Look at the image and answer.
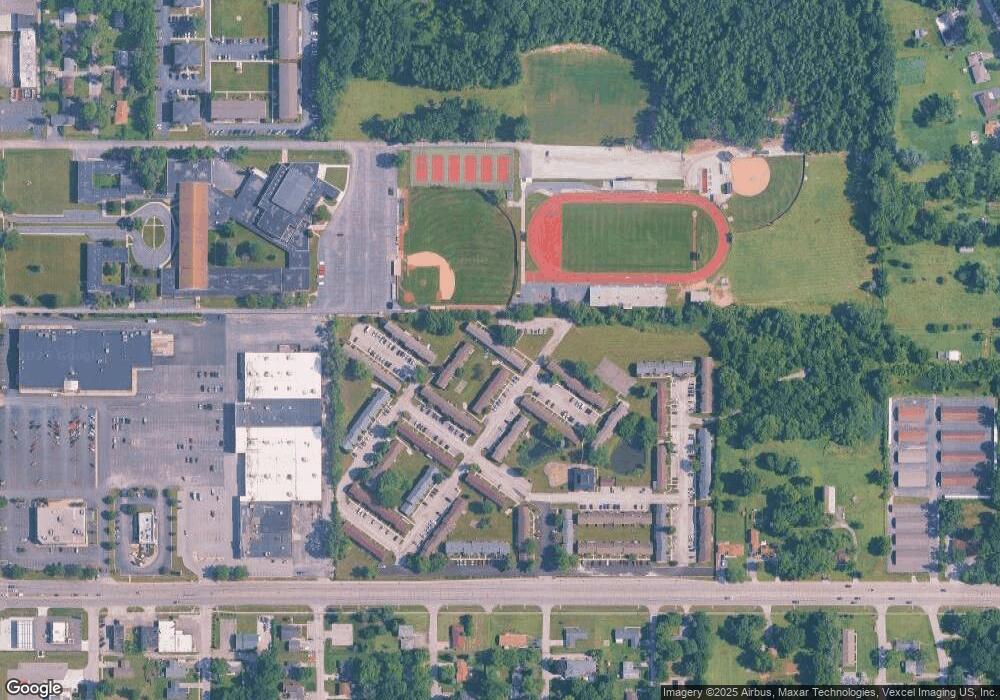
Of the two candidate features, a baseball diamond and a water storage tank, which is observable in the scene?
baseball diamond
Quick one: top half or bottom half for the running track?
top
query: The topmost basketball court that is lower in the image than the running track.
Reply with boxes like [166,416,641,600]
[595,357,636,394]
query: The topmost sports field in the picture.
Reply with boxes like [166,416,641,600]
[525,49,650,144]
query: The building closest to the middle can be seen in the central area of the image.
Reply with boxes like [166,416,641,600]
[466,323,527,370]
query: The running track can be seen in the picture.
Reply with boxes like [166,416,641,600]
[525,192,729,284]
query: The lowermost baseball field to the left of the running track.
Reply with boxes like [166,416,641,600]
[402,189,517,306]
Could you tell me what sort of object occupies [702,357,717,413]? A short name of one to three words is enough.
building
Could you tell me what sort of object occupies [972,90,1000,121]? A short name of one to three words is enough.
house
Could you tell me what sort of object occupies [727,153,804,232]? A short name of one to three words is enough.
baseball field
